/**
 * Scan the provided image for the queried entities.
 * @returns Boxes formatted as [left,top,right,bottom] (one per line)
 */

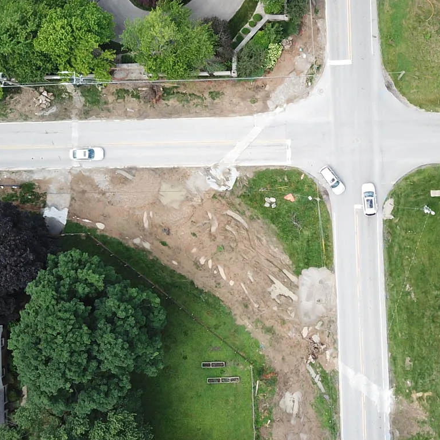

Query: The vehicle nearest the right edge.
[361,183,378,215]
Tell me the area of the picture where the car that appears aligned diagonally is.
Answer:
right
